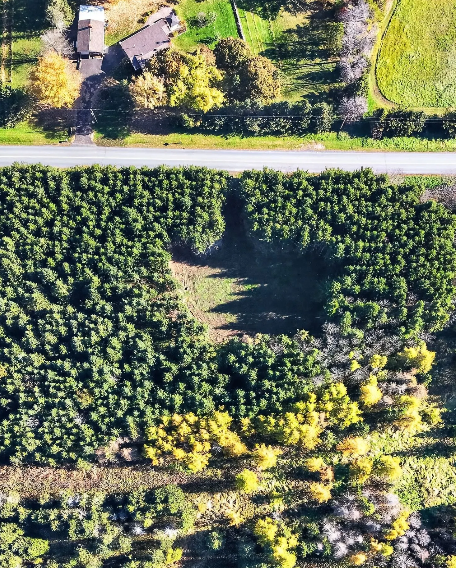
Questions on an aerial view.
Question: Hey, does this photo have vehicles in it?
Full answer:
No, no vehicle can be seen from above.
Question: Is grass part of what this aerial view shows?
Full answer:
Yes, there is grass in the image.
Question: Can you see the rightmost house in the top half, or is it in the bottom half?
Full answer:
The rightmost house sits in the top half of the picture.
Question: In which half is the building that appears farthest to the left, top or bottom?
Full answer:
You can find the building that appears farthest to the left in the top half.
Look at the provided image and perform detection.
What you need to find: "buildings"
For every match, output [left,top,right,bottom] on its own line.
[119,15,174,76]
[77,1,112,57]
